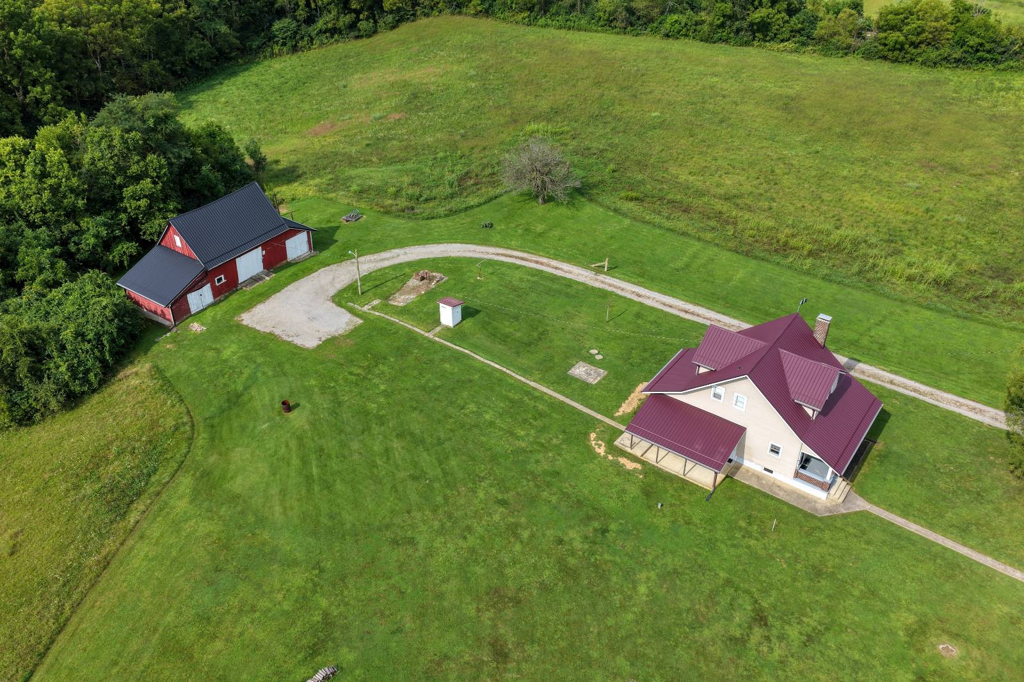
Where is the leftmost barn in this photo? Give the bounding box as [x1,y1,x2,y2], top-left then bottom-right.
[117,180,317,327]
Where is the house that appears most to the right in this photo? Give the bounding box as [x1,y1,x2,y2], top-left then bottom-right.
[613,300,885,507]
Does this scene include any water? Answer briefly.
No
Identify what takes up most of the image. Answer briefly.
grass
